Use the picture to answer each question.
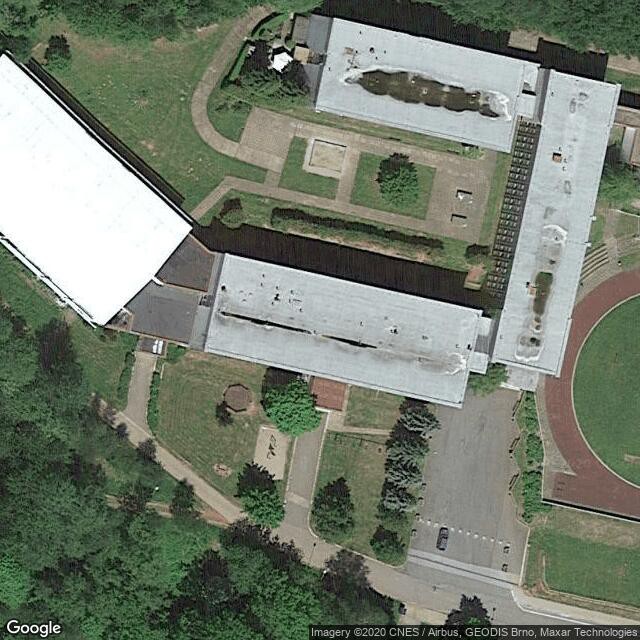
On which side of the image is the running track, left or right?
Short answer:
right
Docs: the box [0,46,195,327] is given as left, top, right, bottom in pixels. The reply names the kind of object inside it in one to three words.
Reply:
building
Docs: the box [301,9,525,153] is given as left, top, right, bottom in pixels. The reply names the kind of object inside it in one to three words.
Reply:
building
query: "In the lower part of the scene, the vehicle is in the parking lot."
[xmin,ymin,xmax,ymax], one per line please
[437,528,449,549]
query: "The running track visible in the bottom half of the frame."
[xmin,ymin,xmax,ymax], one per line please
[545,269,640,520]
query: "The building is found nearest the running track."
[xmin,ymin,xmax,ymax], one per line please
[481,59,621,378]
